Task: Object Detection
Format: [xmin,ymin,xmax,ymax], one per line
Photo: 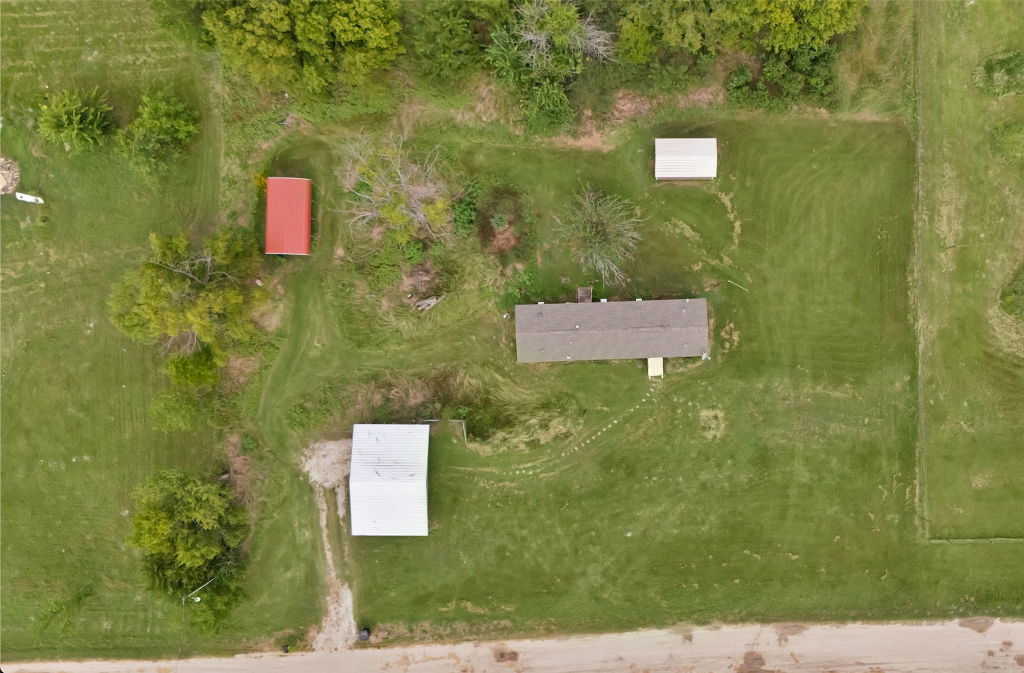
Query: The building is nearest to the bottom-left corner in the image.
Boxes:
[349,423,430,536]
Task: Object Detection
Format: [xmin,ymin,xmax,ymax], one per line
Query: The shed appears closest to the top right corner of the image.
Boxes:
[651,138,718,183]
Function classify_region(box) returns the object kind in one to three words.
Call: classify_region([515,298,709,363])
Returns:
house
